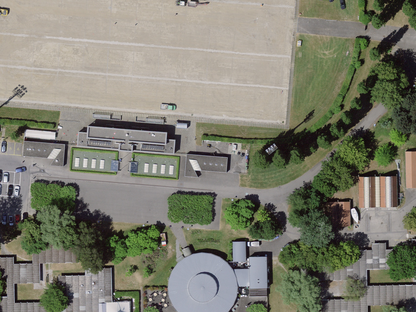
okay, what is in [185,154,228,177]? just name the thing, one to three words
building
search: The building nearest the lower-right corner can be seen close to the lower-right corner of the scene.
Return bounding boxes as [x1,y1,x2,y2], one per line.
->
[327,242,416,312]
